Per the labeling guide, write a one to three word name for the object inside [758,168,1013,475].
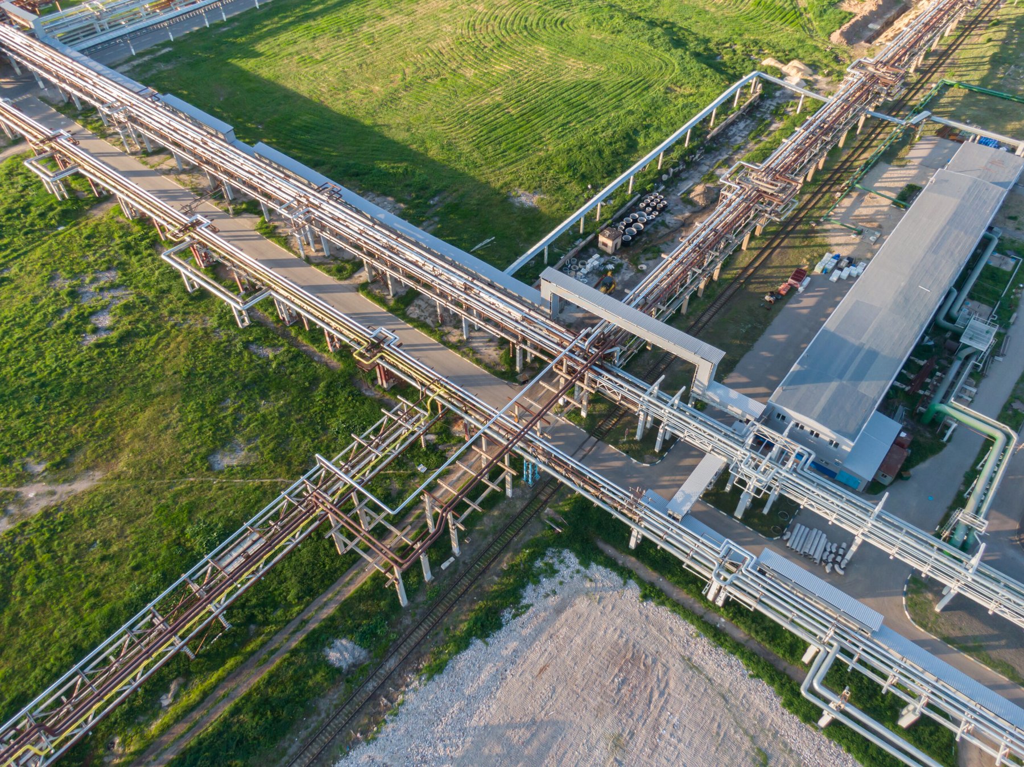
building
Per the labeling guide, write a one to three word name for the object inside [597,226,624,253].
shed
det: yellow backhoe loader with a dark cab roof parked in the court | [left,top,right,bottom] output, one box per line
[598,259,617,294]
